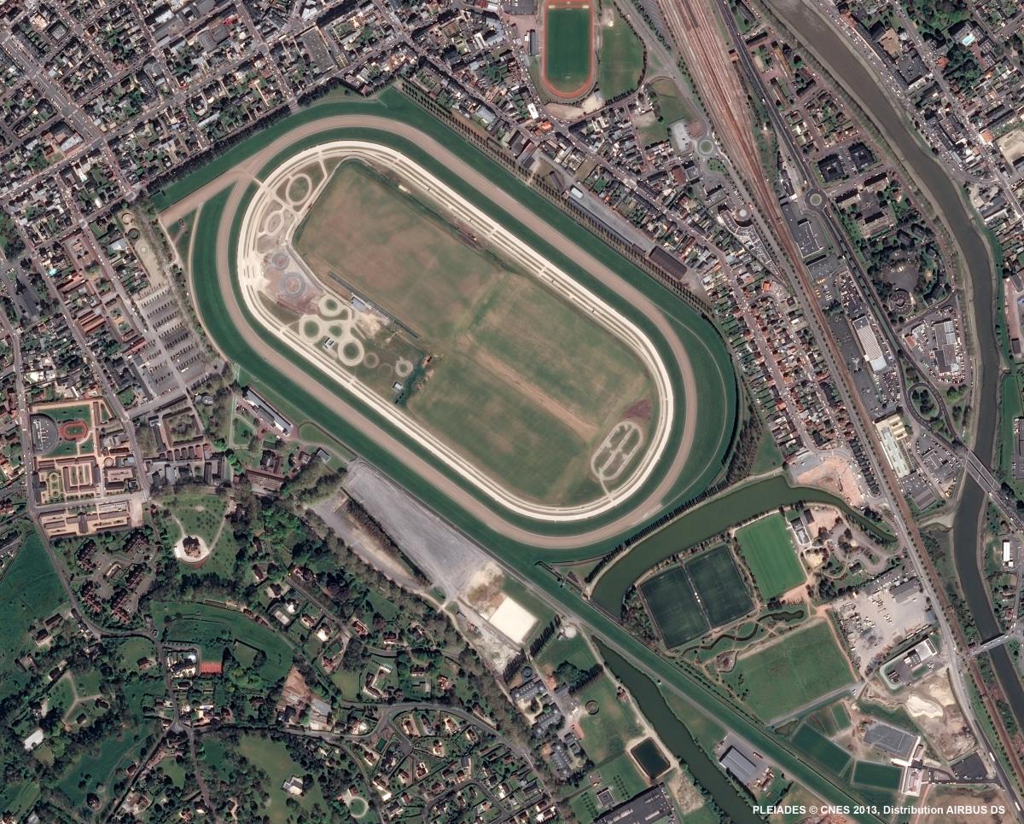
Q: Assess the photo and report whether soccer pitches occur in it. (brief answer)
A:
Yes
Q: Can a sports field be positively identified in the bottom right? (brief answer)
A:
Yes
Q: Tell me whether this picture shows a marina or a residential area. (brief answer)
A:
residential area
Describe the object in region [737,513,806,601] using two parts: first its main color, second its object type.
green soccer field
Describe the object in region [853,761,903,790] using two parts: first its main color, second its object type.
green sports field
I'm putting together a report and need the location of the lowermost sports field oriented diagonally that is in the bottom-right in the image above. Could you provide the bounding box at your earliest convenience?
[791,724,851,776]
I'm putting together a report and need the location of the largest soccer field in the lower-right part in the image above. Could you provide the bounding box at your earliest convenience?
[738,621,853,721]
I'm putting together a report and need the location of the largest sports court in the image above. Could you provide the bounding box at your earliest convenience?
[864,723,917,758]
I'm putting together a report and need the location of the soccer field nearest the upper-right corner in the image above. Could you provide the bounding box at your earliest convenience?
[600,26,645,100]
